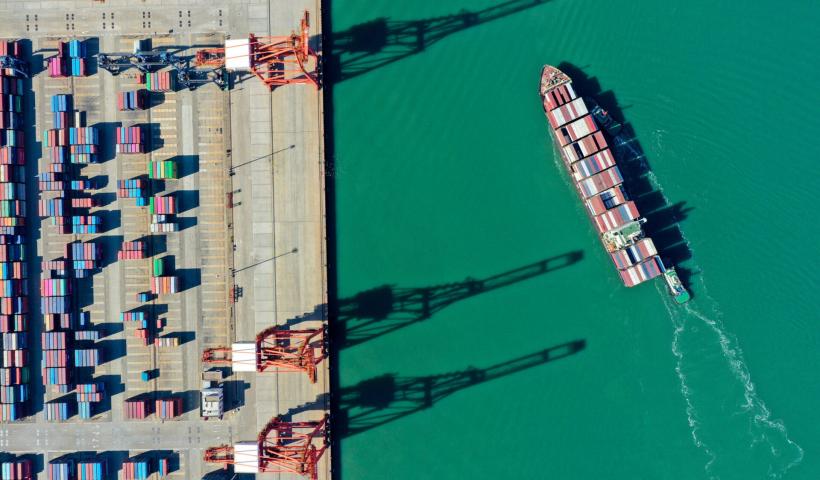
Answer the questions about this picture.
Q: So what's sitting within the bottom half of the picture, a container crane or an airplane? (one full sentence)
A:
Looking within the bottom half of the picture, you will find a container crane.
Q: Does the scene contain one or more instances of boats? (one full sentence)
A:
Yes, you can see a boat in this photo.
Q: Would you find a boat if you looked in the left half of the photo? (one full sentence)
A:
No, there is no boat in the left half of the photo.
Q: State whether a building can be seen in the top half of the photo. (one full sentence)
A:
No, no building can be made out in the top half of the photo.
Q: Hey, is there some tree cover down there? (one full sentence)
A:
No, tree cover can't be seen anywhere here.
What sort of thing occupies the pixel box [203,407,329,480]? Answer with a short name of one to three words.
container crane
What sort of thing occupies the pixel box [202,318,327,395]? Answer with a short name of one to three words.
container crane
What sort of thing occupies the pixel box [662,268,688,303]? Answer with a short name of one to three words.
boat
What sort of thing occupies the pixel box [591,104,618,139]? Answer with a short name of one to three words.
boat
